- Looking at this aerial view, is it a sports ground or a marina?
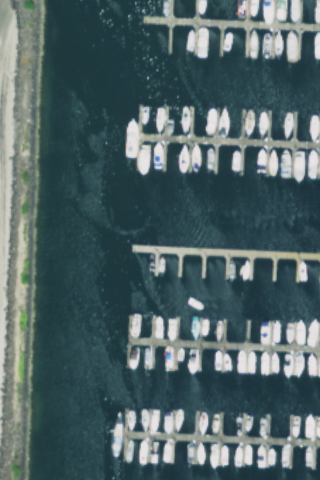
marina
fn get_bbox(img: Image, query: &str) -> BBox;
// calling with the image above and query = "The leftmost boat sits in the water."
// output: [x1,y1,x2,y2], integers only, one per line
[110,412,122,458]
